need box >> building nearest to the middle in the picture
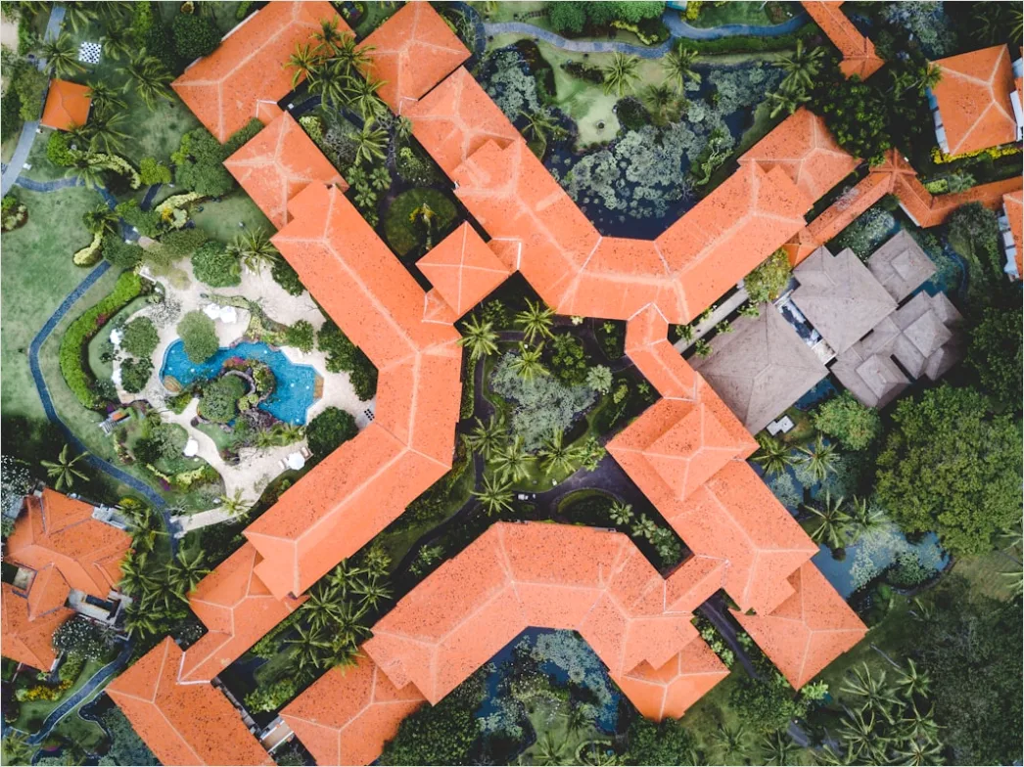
[416,220,509,316]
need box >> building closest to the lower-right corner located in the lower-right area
[728,560,868,690]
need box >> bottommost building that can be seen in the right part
[622,640,729,722]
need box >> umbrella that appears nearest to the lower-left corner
[185,439,201,455]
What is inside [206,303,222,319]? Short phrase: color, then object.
white umbrella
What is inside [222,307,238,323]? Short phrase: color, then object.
white umbrella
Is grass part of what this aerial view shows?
Yes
